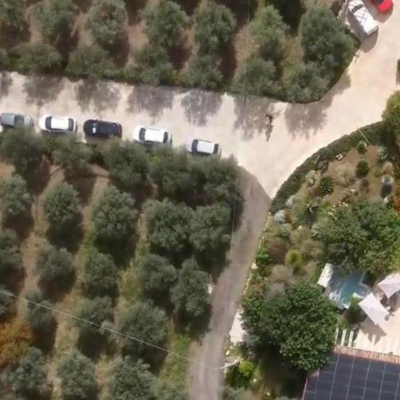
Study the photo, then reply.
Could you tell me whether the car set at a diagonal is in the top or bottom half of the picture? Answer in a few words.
top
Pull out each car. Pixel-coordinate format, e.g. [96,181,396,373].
[0,111,38,129]
[40,114,79,133]
[134,125,174,146]
[345,0,380,38]
[188,137,223,156]
[370,0,394,12]
[84,119,124,139]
